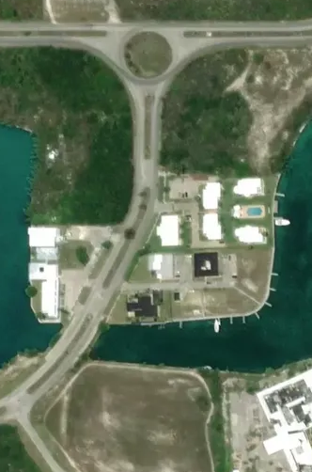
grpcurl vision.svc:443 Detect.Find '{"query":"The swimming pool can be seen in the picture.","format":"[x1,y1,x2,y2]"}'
[240,205,265,217]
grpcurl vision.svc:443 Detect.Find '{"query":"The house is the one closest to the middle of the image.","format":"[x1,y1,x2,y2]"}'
[157,215,180,246]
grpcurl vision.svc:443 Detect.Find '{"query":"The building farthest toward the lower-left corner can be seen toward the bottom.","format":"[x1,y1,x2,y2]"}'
[29,262,60,318]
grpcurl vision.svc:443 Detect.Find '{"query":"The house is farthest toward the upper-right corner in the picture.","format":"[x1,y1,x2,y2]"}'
[234,178,263,197]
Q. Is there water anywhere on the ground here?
Yes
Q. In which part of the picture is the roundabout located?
top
